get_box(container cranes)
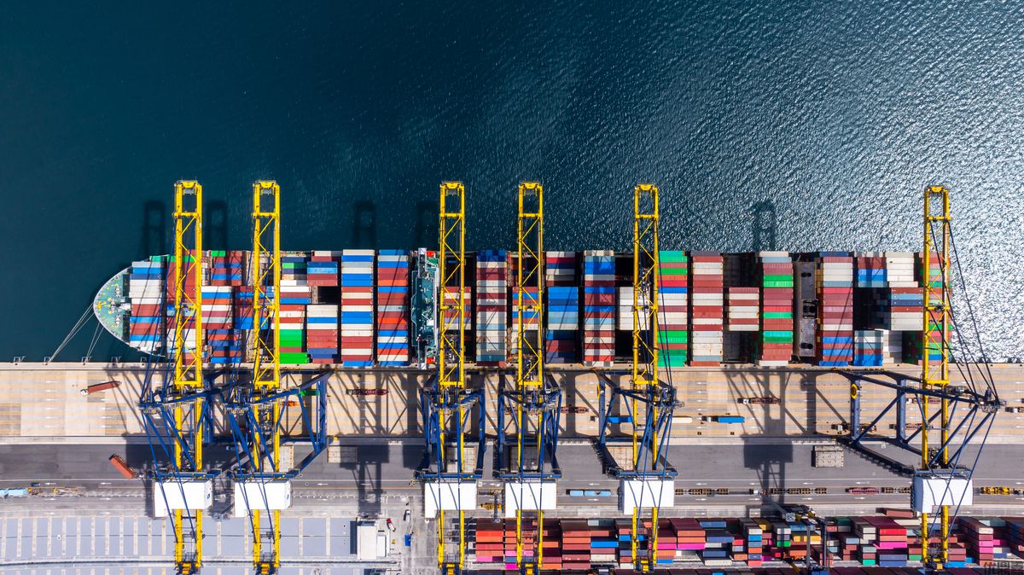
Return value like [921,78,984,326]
[776,507,832,575]
[417,180,490,574]
[833,182,1014,574]
[219,177,338,574]
[131,177,274,574]
[496,180,561,574]
[595,180,685,574]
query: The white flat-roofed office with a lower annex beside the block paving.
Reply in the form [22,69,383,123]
[357,518,391,559]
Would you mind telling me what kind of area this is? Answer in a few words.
port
